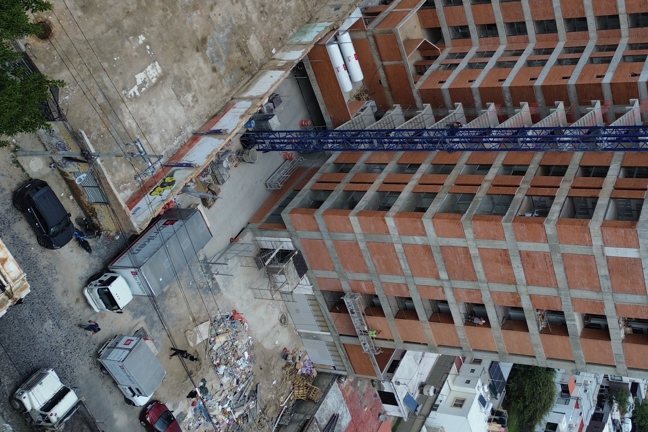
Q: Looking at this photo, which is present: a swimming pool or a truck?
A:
truck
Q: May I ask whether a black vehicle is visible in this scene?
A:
Yes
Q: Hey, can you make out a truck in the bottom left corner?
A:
Yes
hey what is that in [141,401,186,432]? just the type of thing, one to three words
car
